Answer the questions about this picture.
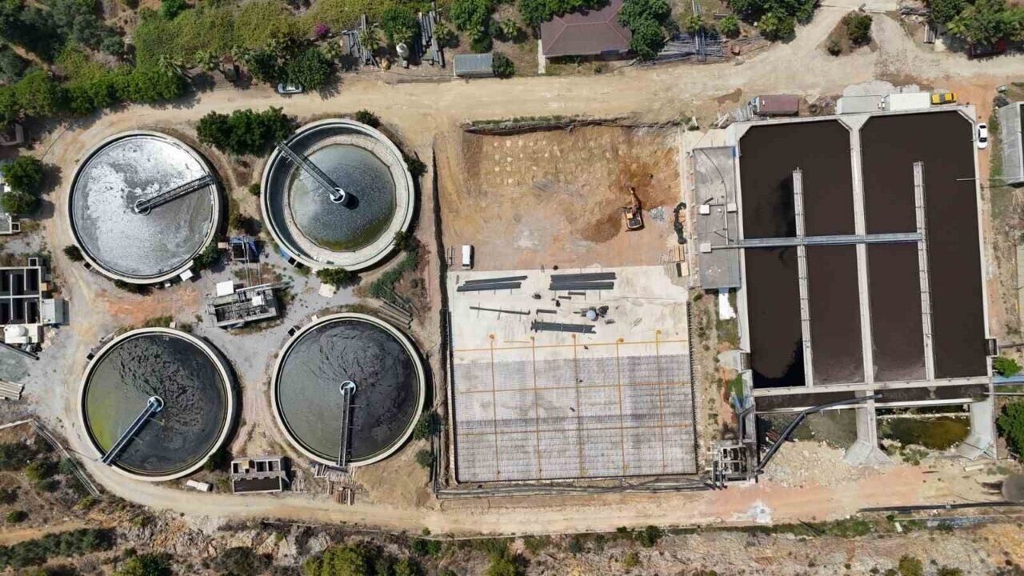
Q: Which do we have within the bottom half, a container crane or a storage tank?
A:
storage tank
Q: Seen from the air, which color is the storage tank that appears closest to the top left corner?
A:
white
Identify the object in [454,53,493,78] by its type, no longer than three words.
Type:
shed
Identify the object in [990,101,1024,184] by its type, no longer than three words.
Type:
shed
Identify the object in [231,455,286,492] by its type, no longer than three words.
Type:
storage tank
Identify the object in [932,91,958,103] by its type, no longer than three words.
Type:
vehicle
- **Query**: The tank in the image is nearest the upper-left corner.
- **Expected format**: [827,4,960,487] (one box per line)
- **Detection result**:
[67,130,226,283]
